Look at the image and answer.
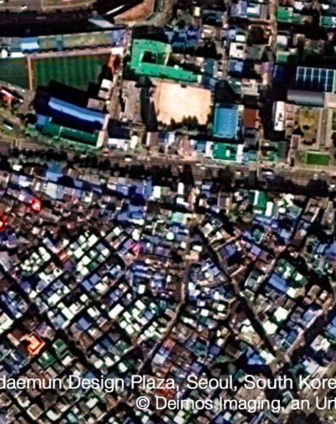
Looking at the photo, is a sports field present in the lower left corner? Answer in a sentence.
No, there's no sports field to be seen in the lower left corner.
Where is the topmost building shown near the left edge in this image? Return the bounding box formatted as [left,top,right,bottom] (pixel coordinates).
[0,29,130,57]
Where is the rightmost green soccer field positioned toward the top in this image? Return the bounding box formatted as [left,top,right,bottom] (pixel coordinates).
[33,52,107,92]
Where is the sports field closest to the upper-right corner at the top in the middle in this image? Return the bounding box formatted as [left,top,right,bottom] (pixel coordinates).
[153,80,211,125]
